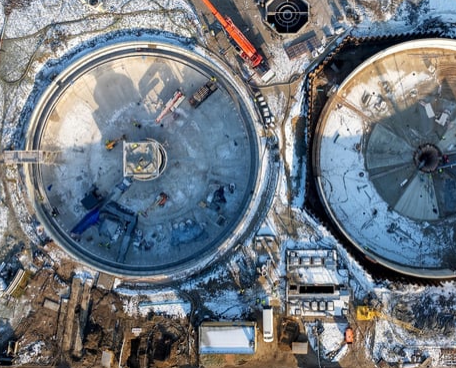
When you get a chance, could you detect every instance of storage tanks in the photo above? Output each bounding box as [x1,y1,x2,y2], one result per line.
[26,41,265,279]
[311,39,456,280]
